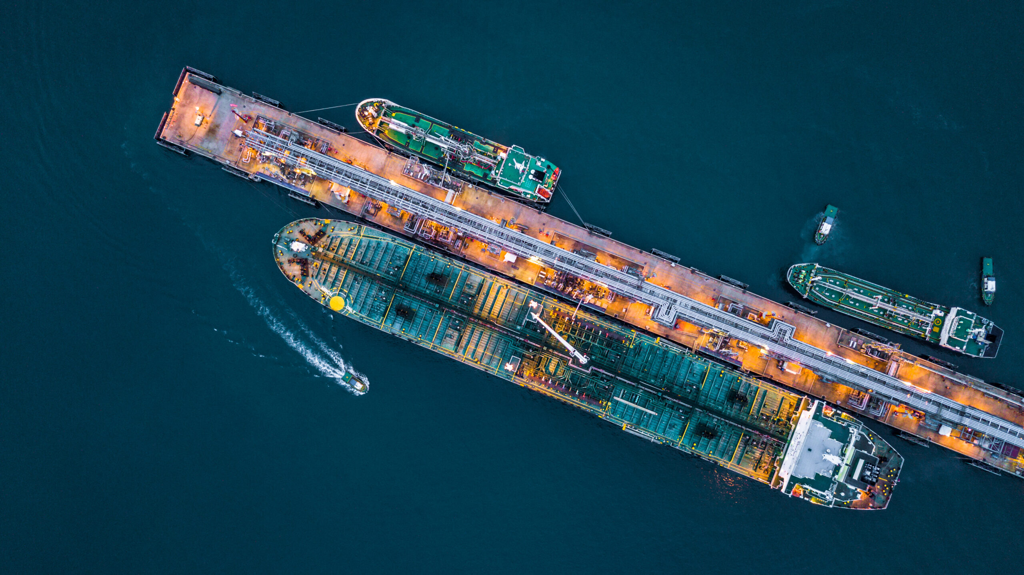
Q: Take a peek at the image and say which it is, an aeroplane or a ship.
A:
ship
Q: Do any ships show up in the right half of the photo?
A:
Yes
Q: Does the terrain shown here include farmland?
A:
No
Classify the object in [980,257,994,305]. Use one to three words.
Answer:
boat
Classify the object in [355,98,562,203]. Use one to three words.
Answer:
ship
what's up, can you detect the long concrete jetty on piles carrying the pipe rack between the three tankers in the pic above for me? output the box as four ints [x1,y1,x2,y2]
[153,65,1024,478]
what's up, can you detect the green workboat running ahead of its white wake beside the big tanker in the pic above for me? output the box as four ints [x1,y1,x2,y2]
[341,371,368,393]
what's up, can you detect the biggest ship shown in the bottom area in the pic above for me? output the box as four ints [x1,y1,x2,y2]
[272,217,904,510]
